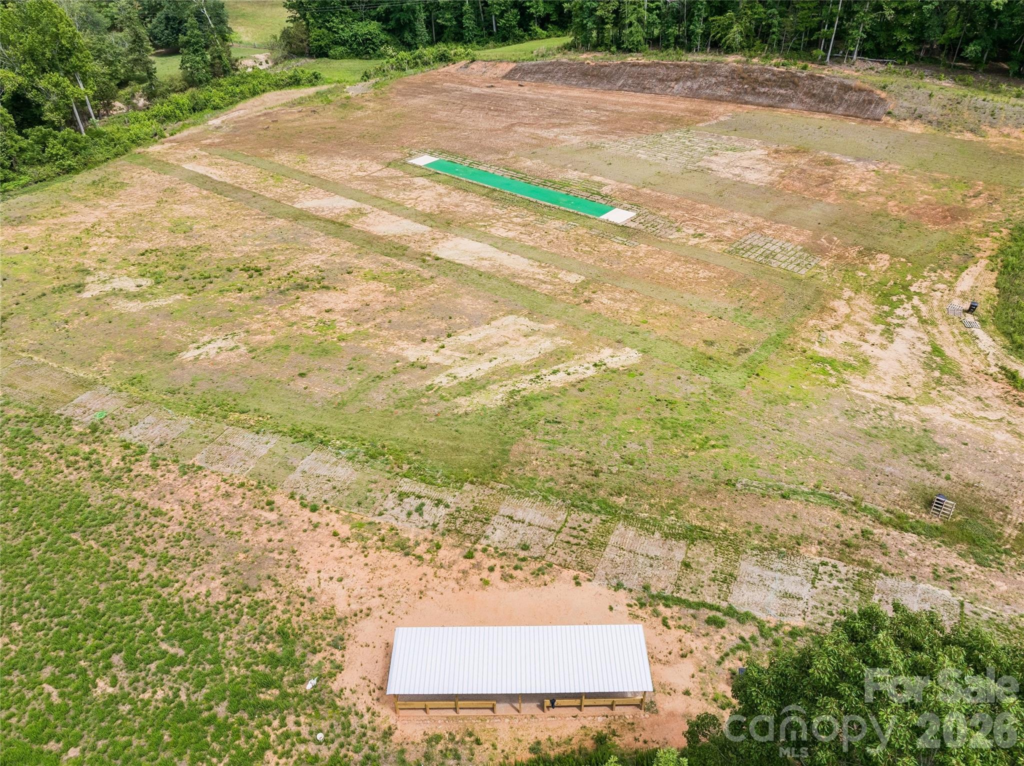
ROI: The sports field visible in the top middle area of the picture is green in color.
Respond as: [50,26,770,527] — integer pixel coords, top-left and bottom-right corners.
[404,153,639,225]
